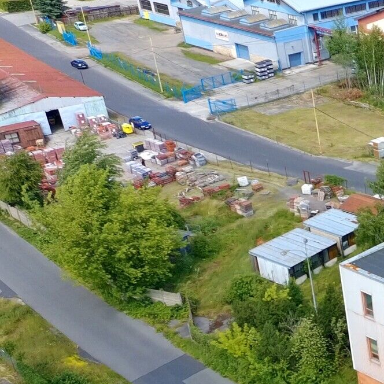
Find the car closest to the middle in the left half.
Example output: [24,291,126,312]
[126,111,153,129]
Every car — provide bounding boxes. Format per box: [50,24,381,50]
[126,111,153,129]
[72,17,90,29]
[67,55,89,69]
